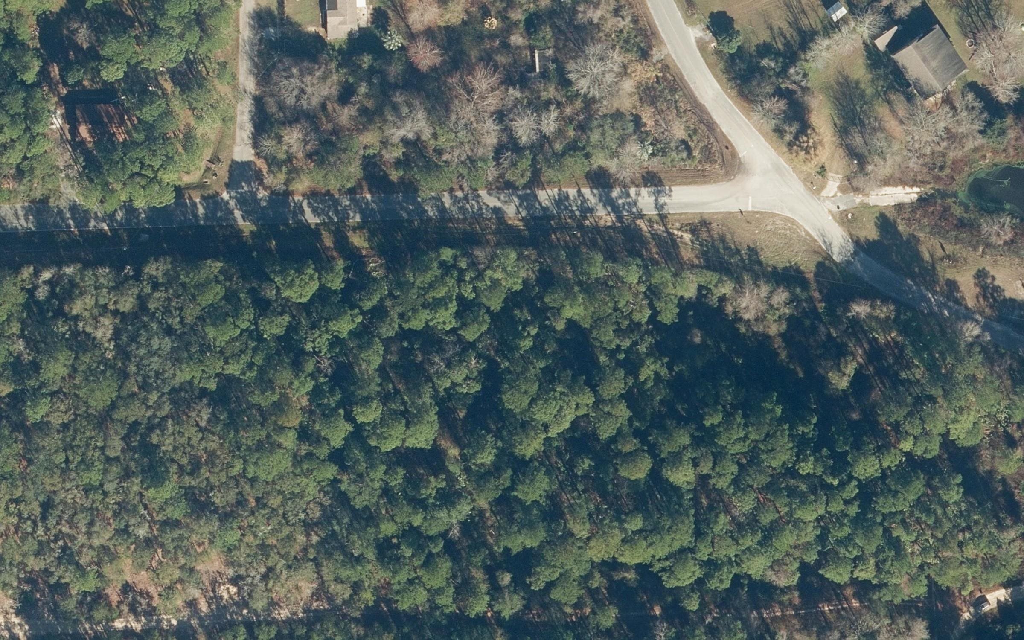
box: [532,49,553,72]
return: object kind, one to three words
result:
shed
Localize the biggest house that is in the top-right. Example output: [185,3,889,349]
[875,24,967,99]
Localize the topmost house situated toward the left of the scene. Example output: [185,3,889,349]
[326,0,366,38]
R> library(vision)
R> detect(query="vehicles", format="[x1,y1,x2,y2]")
[977,594,994,615]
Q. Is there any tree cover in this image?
Yes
